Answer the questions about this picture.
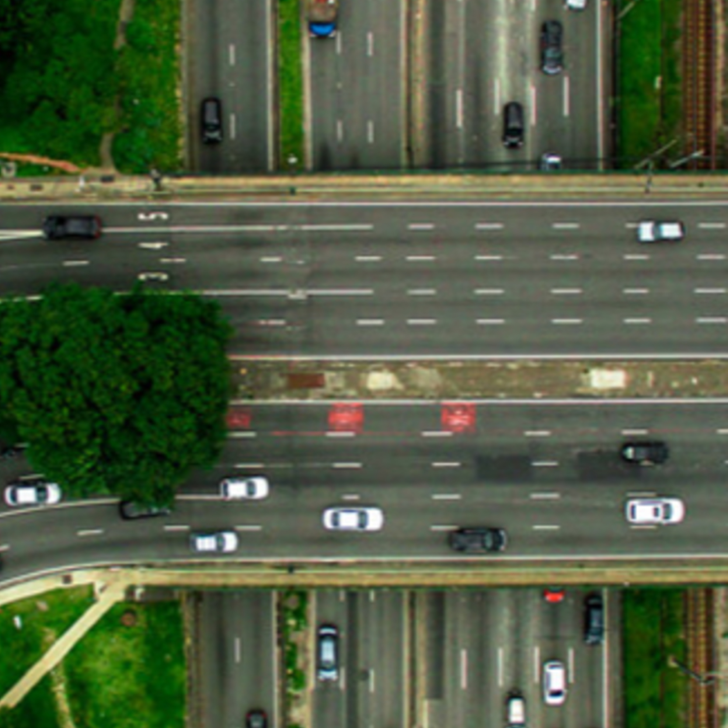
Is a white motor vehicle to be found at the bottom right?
Yes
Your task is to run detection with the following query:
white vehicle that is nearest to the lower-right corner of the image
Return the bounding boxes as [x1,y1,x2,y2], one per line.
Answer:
[542,659,567,705]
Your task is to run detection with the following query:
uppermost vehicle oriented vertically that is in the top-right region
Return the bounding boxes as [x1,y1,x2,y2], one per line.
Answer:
[539,18,566,75]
